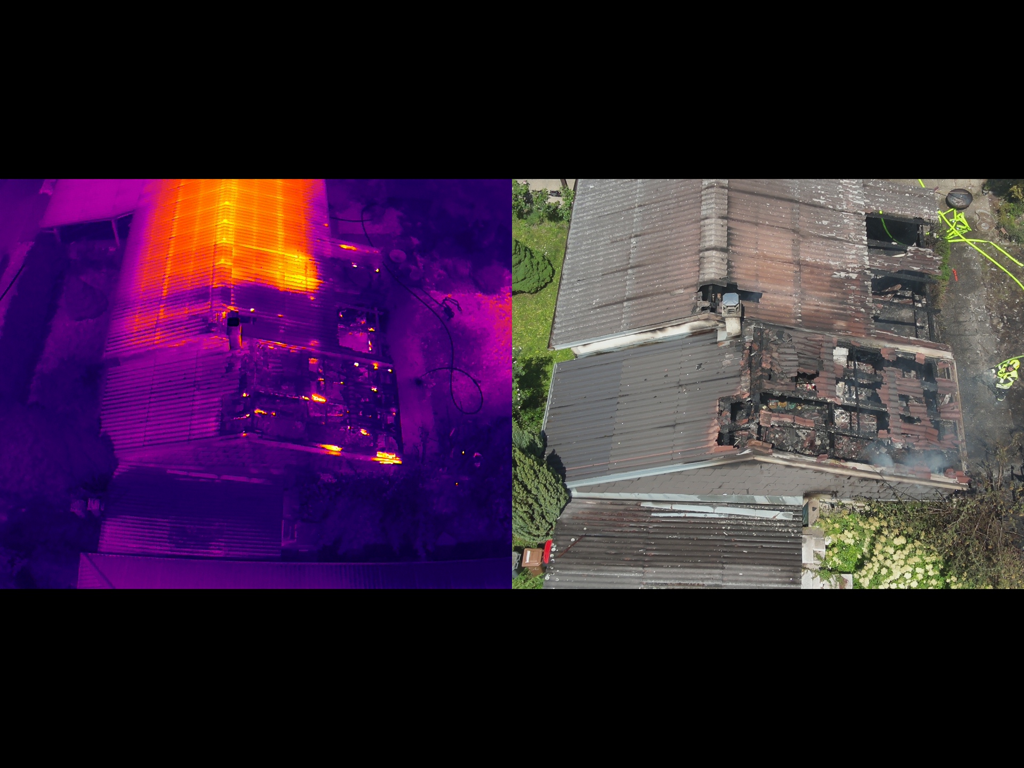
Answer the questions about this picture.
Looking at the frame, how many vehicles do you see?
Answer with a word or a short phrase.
0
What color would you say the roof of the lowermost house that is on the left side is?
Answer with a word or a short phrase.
purple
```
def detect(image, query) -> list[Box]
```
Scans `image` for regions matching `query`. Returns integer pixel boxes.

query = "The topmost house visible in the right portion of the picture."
[545,179,955,406]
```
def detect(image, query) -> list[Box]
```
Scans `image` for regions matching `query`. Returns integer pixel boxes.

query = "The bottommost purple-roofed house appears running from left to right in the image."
[68,553,512,589]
